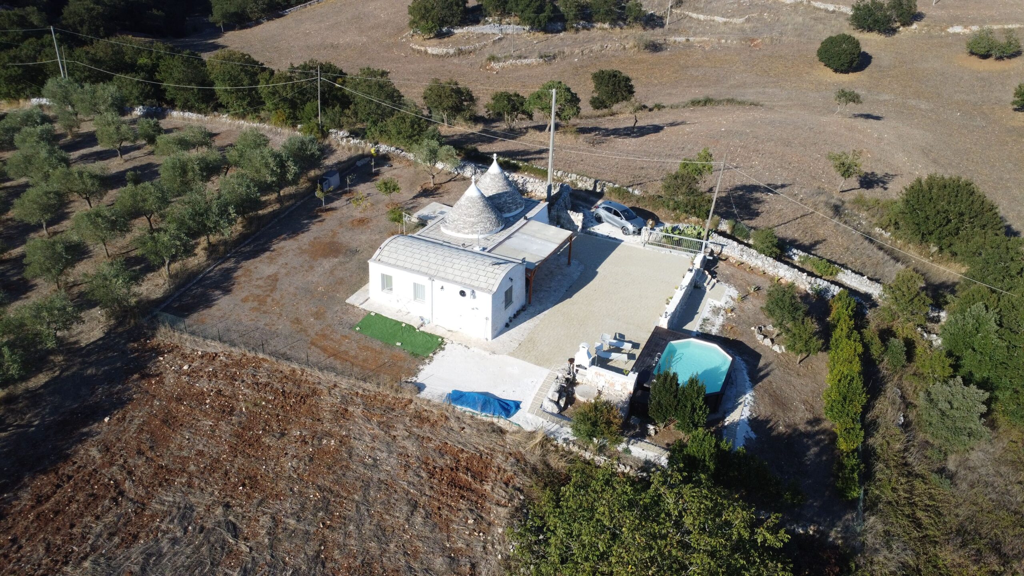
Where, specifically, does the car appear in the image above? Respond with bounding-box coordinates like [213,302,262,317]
[593,200,646,235]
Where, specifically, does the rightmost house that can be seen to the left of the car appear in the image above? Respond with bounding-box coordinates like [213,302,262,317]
[367,153,546,339]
